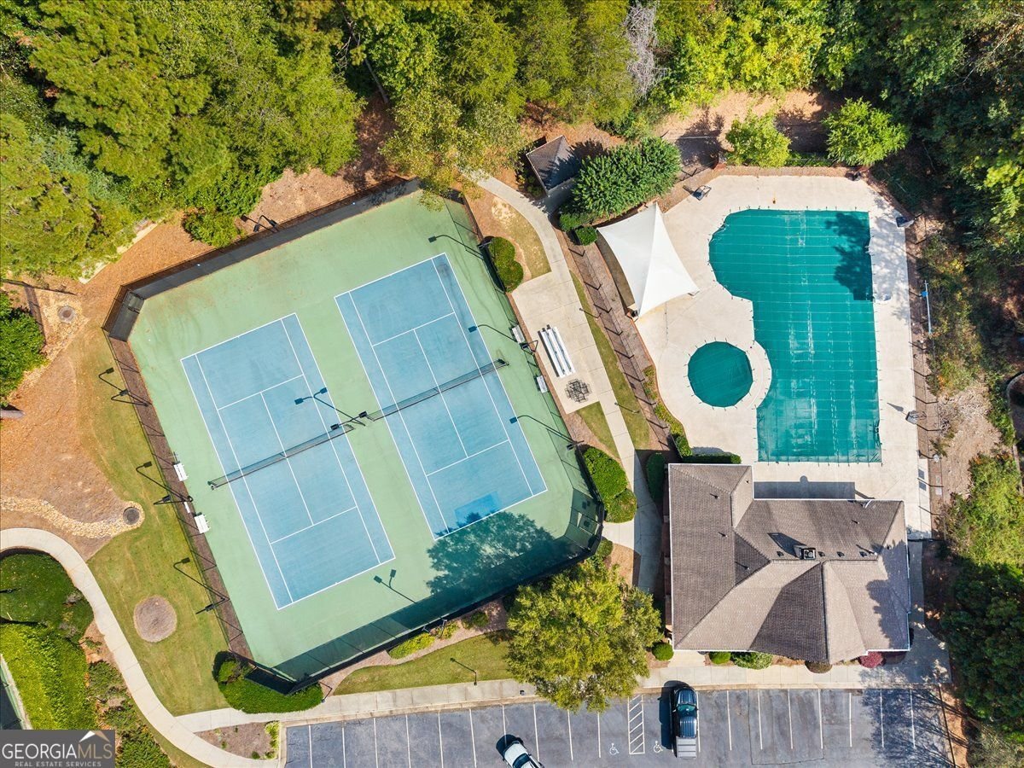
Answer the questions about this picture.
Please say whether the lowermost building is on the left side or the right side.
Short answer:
right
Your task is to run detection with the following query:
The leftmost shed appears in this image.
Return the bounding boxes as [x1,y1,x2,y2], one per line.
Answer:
[526,136,586,195]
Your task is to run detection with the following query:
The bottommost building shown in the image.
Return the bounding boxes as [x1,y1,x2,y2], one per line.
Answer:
[660,463,913,664]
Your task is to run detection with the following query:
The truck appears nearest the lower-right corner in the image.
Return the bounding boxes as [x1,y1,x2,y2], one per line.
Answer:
[672,682,701,758]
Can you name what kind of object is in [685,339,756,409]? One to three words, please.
swimming pool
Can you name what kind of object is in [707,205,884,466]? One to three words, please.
swimming pool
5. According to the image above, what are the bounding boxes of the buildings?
[526,136,586,195]
[660,463,913,664]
